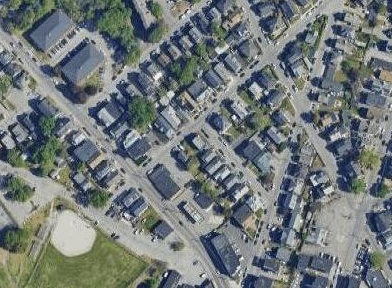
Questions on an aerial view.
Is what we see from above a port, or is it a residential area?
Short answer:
residential area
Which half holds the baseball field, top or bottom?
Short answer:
bottom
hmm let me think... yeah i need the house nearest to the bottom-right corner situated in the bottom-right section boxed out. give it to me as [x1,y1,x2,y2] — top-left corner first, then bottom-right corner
[366,267,390,288]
